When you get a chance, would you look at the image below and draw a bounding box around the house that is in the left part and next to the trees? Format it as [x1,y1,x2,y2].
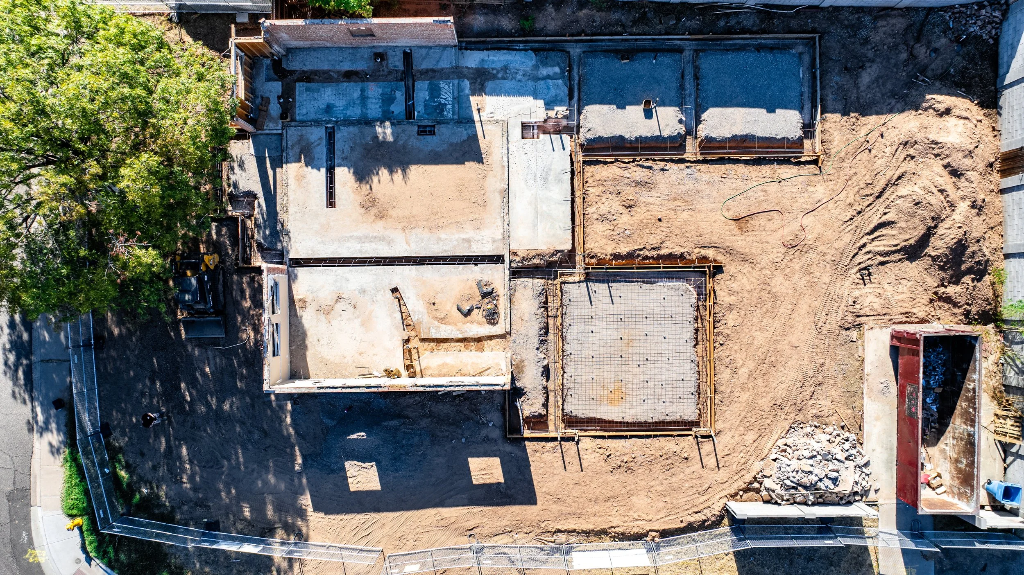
[221,11,571,400]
